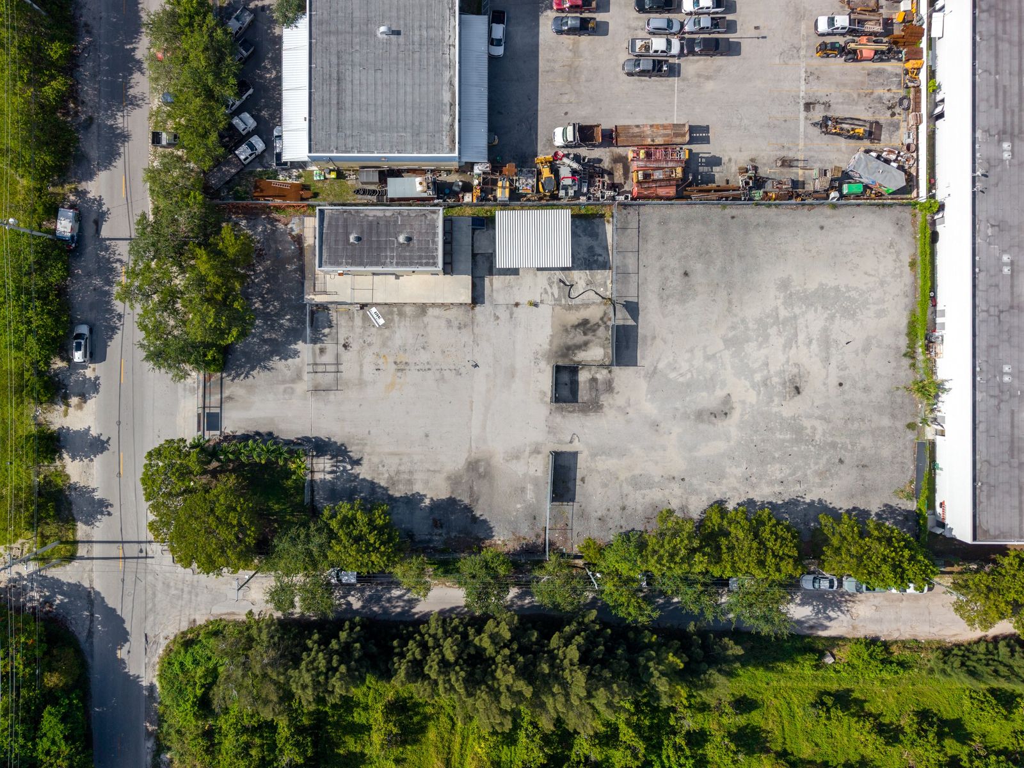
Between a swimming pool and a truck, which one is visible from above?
truck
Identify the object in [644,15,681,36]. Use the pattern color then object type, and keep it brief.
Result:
gray car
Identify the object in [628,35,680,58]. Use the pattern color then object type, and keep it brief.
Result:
white truck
